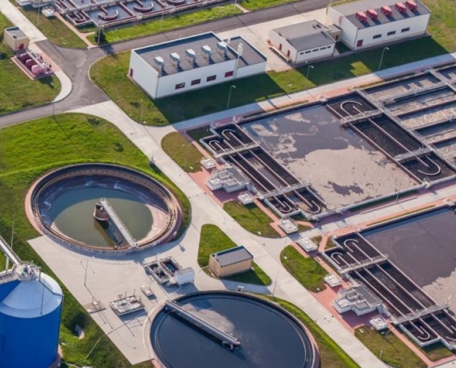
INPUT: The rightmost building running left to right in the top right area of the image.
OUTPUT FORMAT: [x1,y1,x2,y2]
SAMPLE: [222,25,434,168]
[326,0,430,51]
